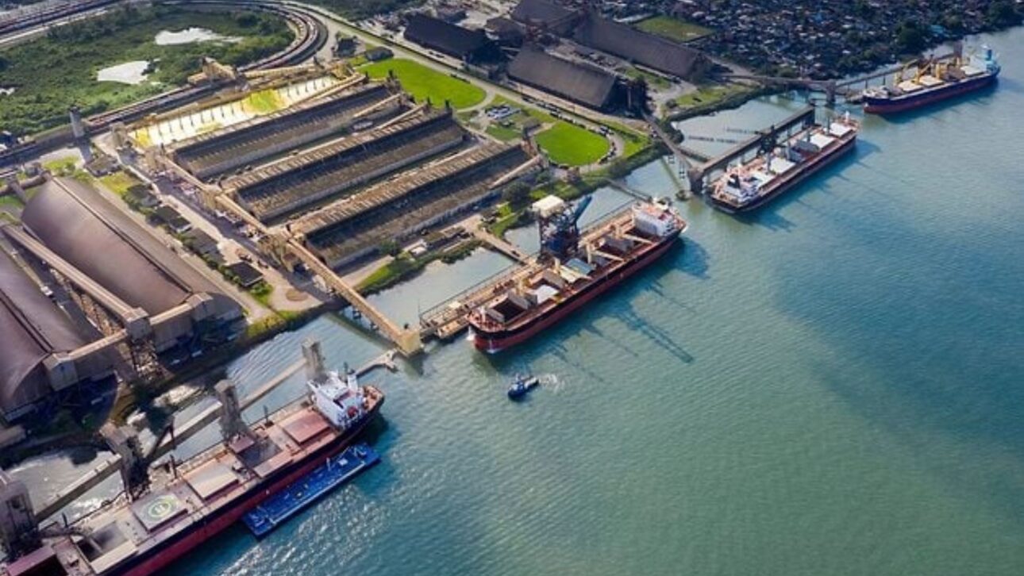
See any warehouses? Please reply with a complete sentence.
Yes, looking at the shot, I can spot a warehouse.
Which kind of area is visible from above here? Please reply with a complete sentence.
This looks like a port.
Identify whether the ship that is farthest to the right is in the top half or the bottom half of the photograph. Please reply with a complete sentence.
The top half of the photo is where the ship that is farthest to the right is.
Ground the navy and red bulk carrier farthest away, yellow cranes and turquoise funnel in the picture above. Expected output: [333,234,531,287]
[862,45,999,109]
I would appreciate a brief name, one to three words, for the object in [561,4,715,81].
shed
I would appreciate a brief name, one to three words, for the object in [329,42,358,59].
building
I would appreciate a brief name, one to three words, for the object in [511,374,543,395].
boat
